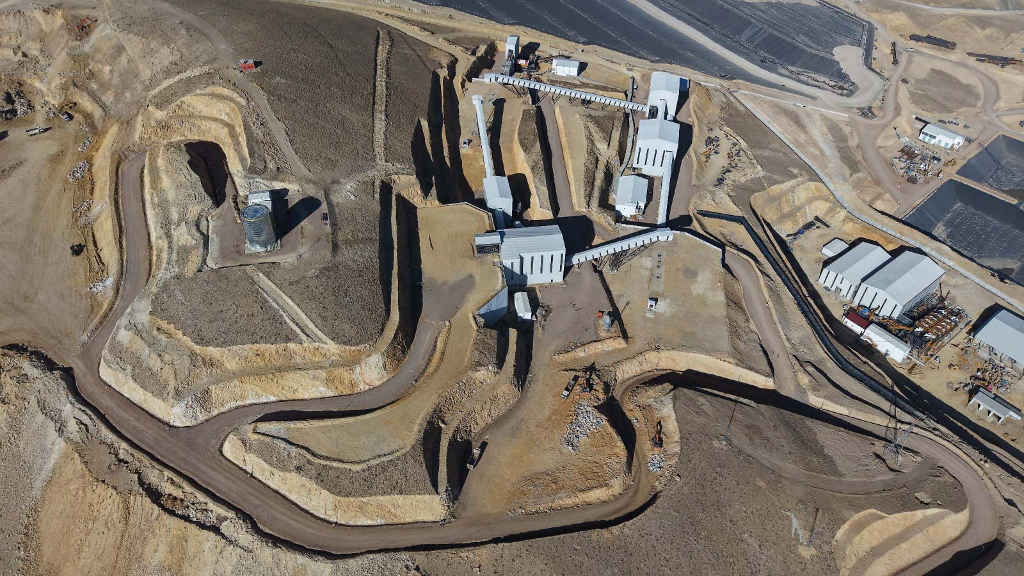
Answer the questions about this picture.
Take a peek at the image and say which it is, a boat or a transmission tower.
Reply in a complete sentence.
Visible in the photo is a transmission tower.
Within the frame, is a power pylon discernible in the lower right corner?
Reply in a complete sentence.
Yes, in the lower right corner there is a power pylon.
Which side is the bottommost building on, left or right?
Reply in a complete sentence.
The bottommost building is on the right side of the image.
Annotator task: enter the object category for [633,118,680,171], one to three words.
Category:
house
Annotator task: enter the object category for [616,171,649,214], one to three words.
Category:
shed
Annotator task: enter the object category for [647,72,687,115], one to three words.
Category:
house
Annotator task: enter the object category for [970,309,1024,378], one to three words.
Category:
building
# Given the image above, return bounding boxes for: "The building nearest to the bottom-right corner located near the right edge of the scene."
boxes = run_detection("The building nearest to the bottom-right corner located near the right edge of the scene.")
[967,390,1024,428]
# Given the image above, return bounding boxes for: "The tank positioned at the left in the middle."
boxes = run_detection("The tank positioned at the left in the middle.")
[236,204,280,258]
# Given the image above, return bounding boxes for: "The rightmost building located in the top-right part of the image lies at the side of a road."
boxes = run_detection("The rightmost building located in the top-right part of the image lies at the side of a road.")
[921,122,969,153]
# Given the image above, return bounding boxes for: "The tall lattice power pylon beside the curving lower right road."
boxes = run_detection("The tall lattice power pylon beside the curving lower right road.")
[877,419,919,467]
